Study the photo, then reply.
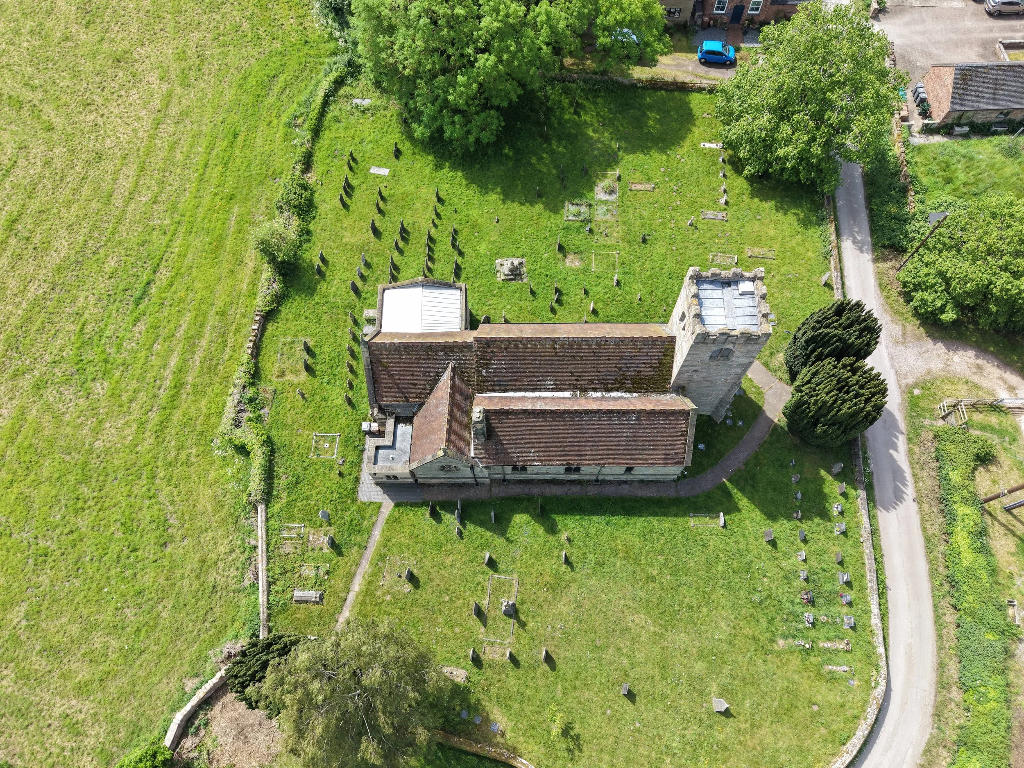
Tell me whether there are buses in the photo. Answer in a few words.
No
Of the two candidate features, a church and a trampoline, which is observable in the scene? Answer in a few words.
church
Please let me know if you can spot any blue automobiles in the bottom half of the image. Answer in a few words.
No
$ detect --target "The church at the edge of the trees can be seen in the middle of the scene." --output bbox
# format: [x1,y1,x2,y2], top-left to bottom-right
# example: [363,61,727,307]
[359,267,774,491]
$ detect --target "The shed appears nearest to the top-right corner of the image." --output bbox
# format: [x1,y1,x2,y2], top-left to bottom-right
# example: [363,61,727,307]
[919,62,1024,133]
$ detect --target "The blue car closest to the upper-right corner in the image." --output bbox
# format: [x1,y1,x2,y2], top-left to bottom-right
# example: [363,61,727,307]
[699,40,736,64]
